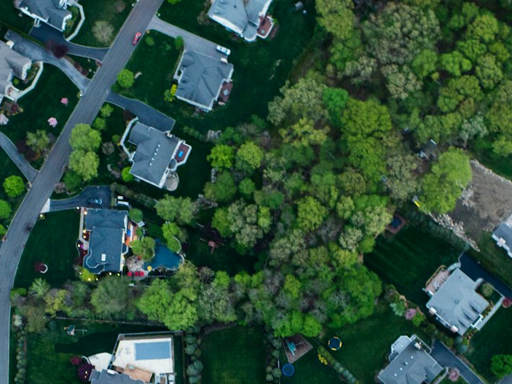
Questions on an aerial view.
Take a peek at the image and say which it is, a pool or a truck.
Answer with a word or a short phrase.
pool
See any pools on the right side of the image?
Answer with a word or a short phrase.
No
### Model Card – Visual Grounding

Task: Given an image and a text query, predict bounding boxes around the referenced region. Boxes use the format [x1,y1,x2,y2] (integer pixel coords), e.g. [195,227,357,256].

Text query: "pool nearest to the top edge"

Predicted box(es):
[143,239,183,270]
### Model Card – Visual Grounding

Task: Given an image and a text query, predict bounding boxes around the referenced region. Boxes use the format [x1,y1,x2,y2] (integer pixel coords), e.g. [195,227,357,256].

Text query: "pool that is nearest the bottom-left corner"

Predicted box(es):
[134,341,171,361]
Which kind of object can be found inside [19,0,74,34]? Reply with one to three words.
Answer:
house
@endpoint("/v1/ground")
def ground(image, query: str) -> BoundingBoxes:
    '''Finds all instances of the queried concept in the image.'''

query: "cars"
[215,46,231,55]
[88,198,102,204]
[132,31,142,44]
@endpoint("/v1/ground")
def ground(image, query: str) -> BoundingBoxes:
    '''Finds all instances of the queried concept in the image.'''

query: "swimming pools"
[134,341,171,361]
[143,239,183,270]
